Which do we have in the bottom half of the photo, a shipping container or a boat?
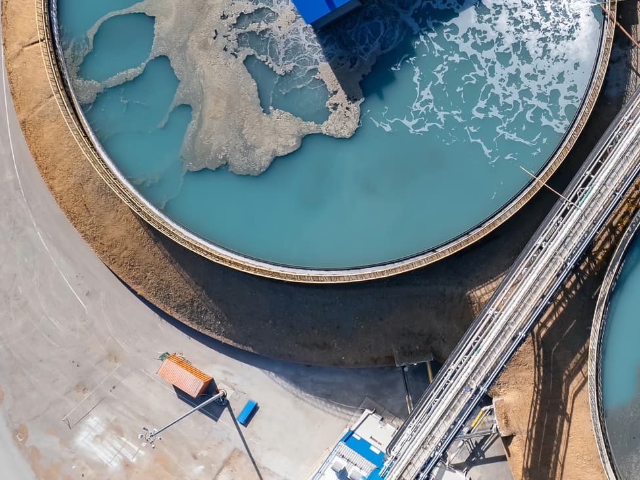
shipping container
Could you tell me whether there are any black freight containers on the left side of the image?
No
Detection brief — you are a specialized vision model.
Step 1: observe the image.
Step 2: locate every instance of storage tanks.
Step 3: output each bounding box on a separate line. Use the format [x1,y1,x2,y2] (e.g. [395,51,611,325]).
[34,0,618,285]
[583,199,640,480]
